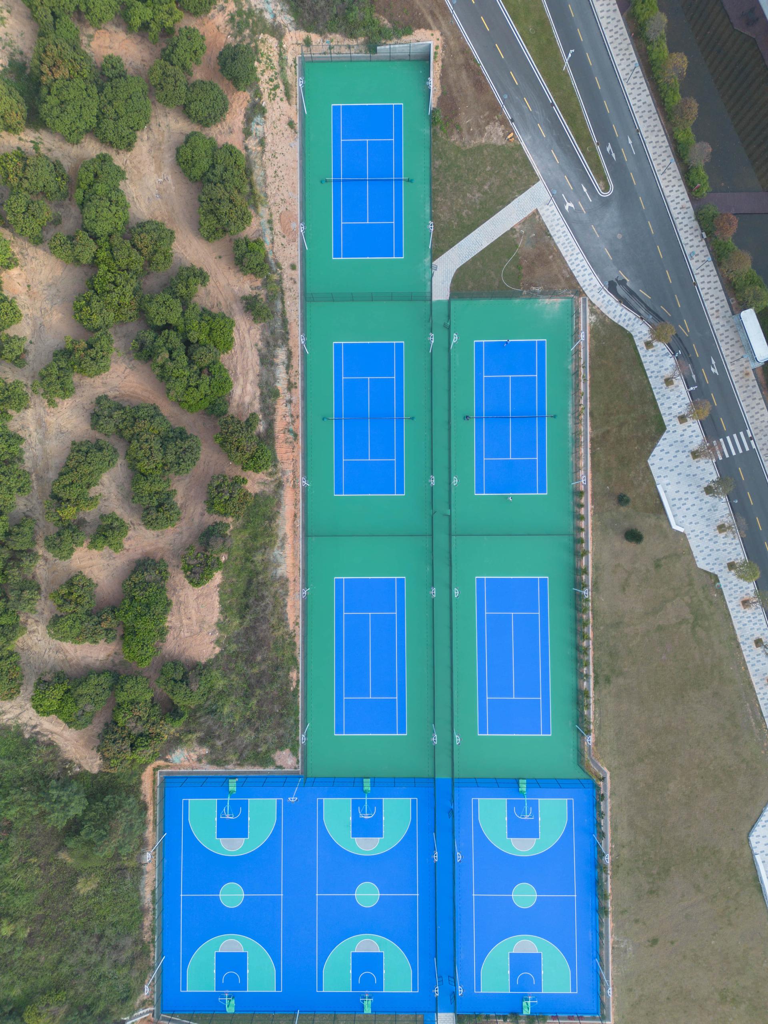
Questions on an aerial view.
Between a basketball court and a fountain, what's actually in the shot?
basketball court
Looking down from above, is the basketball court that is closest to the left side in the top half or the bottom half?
bottom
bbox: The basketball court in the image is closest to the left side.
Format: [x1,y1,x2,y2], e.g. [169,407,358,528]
[161,776,300,1014]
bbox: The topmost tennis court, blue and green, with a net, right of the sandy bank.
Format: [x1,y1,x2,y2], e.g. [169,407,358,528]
[306,61,432,301]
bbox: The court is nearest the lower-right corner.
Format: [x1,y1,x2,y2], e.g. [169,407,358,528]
[452,779,602,1016]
